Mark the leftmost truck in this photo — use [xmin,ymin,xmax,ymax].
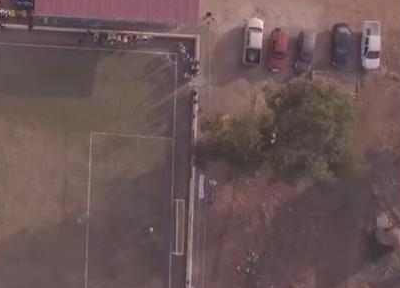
[240,19,264,69]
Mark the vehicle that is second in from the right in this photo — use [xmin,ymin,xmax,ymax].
[328,23,353,69]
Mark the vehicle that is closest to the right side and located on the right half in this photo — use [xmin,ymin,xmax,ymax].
[357,20,383,72]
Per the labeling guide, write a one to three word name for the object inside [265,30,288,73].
car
